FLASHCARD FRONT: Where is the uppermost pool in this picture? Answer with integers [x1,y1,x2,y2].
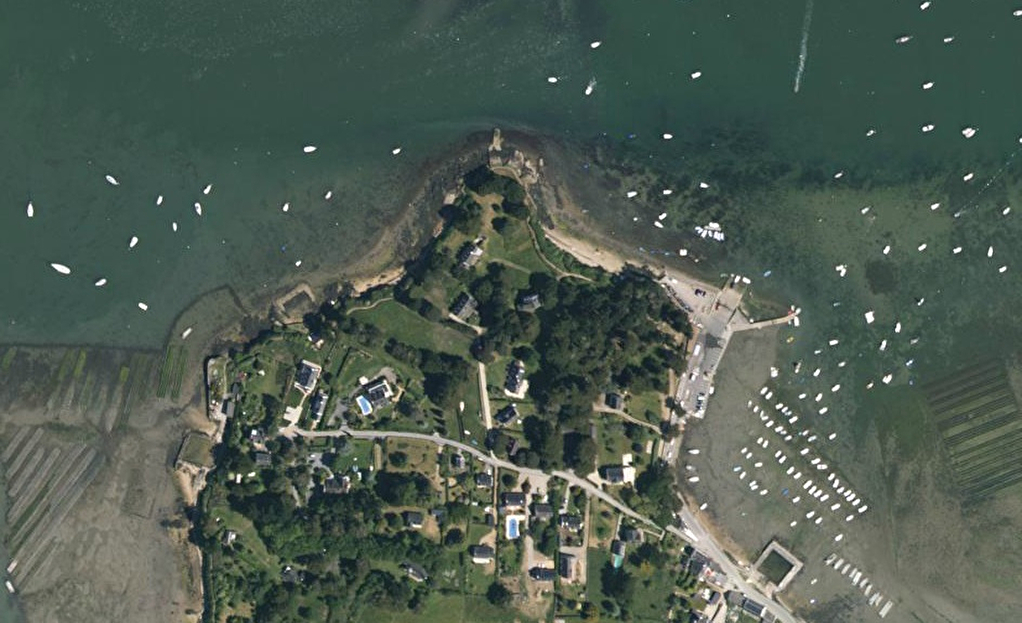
[356,395,372,415]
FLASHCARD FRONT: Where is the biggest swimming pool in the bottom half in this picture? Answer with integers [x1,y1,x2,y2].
[506,515,525,539]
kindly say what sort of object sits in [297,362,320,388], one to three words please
house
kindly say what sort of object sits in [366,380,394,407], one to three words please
house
